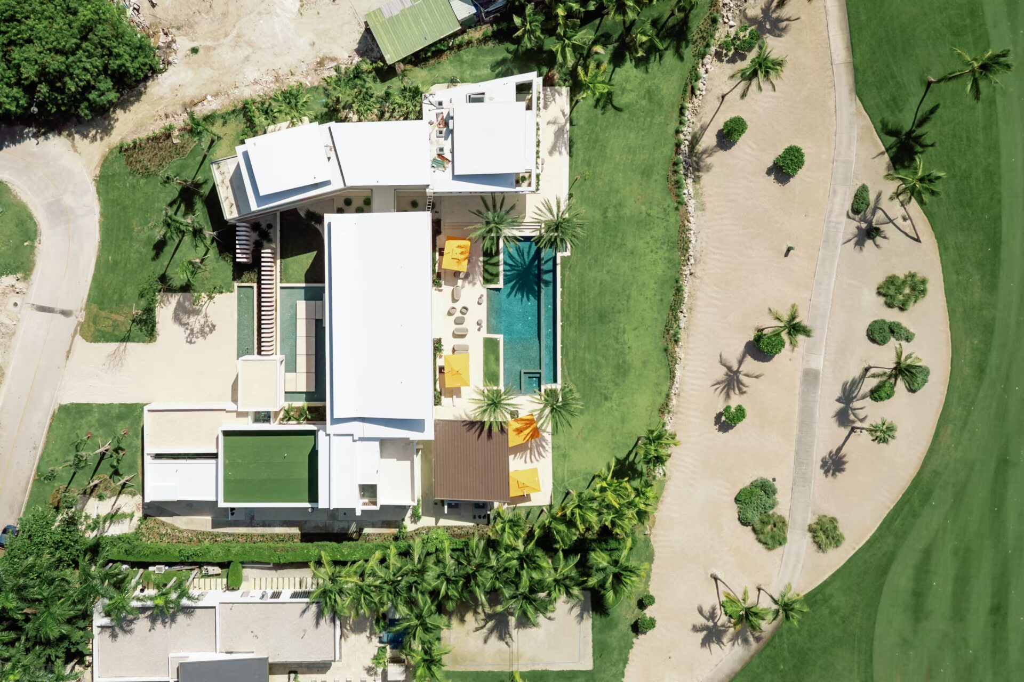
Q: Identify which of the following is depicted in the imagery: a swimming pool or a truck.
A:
swimming pool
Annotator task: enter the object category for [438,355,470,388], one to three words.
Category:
umbrella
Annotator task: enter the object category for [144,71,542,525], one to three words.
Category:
house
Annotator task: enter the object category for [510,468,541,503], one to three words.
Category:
umbrella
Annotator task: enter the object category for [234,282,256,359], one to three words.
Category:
pond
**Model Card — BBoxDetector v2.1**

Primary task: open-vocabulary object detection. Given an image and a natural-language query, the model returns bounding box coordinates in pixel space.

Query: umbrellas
[438,355,470,388]
[439,238,471,272]
[510,468,541,503]
[510,415,539,446]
